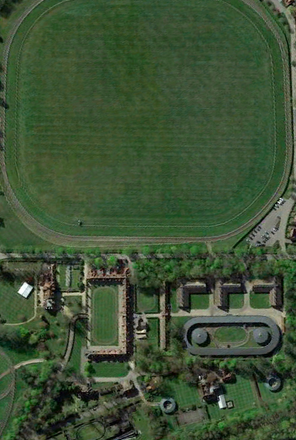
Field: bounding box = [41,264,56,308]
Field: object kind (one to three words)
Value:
house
